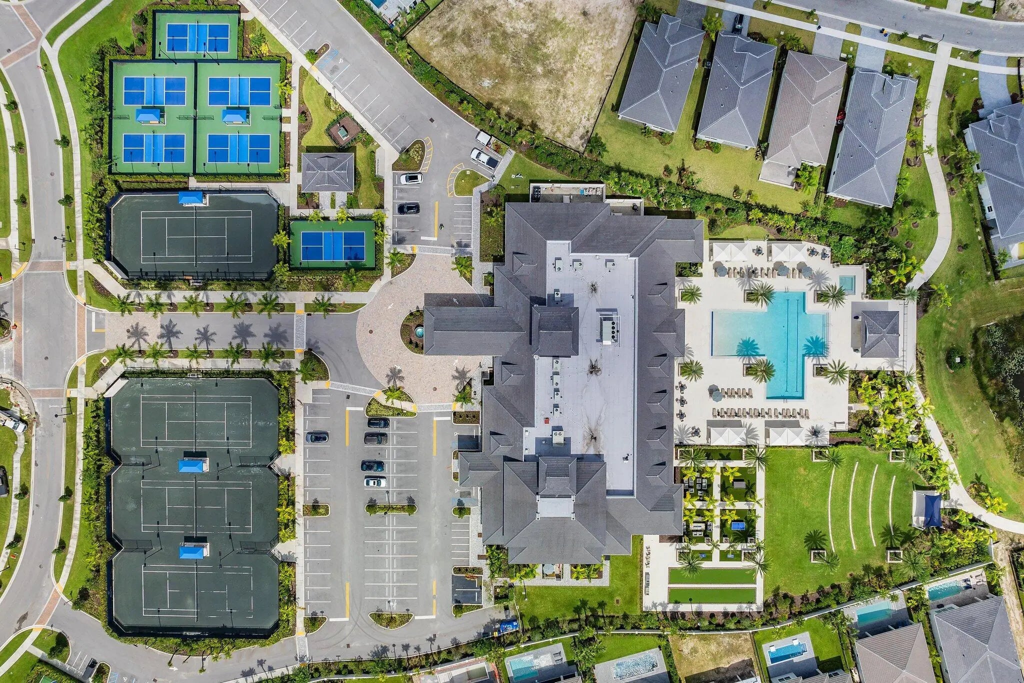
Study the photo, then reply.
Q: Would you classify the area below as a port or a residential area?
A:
residential area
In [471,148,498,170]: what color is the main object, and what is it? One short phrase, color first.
white truck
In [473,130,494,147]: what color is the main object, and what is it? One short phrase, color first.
white vehicle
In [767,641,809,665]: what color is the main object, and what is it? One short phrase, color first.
blue swimming pool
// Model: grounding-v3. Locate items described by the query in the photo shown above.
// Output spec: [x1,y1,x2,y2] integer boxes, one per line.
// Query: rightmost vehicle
[733,13,746,36]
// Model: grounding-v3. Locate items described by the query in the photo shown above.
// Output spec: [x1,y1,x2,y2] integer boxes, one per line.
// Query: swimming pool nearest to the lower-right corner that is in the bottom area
[926,578,962,601]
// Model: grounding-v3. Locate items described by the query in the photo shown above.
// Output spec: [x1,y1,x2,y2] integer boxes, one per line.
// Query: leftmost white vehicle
[1,414,30,432]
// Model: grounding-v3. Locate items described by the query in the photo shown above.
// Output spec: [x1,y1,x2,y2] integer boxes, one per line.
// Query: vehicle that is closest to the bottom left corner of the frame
[81,655,101,681]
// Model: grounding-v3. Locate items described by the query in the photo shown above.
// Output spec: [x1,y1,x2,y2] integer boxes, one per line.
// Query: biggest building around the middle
[423,202,704,564]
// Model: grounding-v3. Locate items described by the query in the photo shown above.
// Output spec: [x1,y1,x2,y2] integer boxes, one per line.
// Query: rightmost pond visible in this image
[981,322,1024,463]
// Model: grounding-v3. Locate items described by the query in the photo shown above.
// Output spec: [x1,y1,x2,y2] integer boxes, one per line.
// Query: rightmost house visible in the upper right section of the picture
[962,101,1024,238]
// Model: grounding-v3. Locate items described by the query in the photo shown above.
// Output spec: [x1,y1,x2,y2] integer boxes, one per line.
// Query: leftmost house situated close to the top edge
[618,13,705,133]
